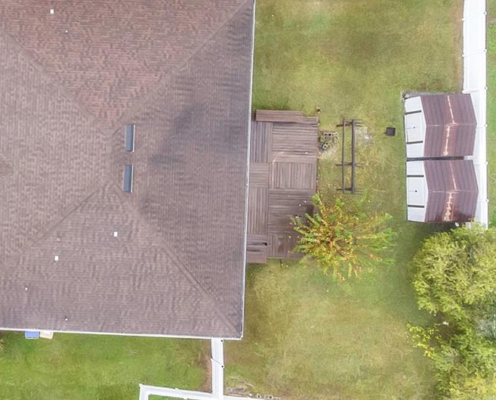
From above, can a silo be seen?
No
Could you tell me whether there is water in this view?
No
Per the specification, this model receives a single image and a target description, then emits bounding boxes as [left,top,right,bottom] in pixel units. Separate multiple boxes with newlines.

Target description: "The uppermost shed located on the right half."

[404,91,482,157]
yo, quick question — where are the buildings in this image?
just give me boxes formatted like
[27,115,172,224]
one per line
[404,91,482,157]
[405,159,483,222]
[0,0,256,341]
